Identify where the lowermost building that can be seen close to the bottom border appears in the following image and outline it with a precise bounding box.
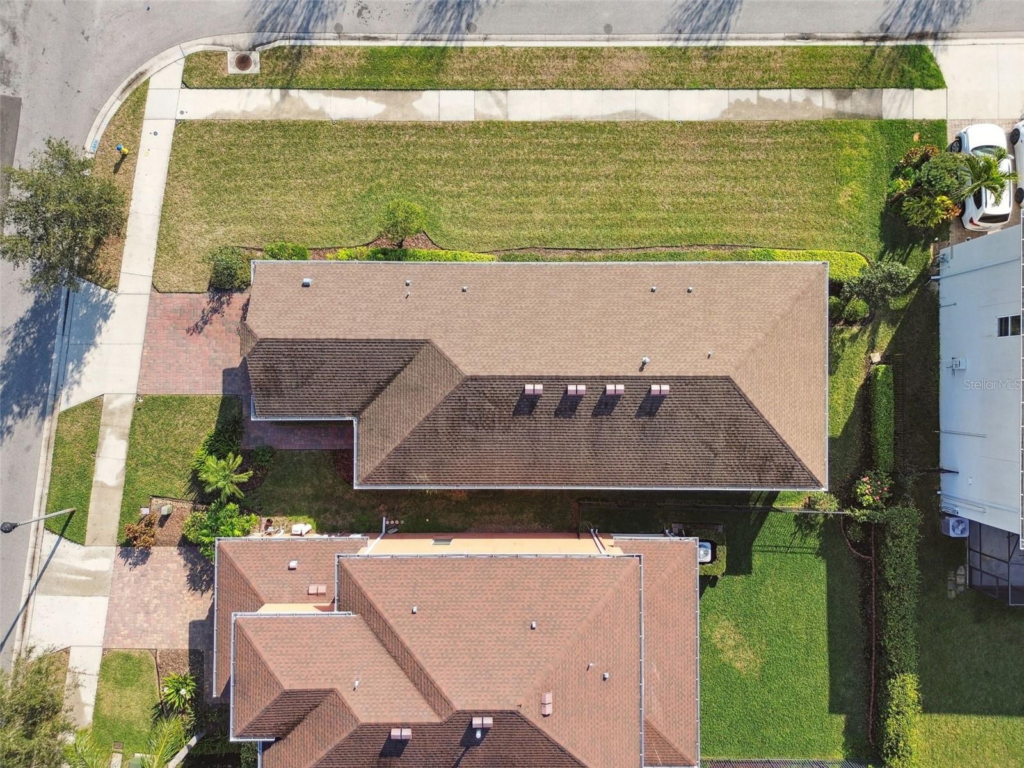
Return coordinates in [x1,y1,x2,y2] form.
[215,518,699,768]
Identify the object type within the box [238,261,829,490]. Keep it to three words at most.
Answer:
house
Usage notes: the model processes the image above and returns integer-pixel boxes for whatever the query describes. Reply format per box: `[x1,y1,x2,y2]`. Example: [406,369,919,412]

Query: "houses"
[238,261,829,490]
[215,518,699,768]
[932,209,1024,551]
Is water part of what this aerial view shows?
No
